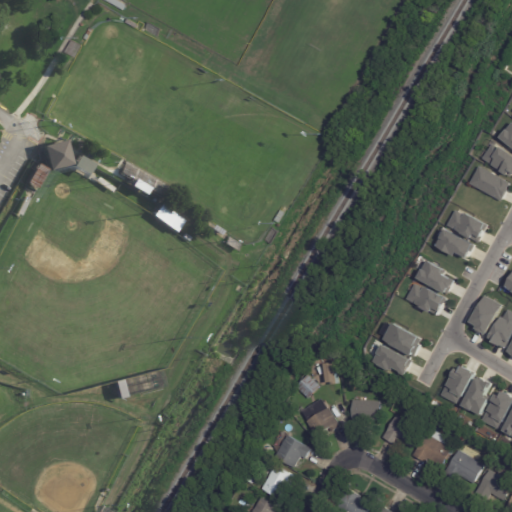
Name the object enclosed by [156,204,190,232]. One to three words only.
building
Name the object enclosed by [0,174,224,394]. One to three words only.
baseball field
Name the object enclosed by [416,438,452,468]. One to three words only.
house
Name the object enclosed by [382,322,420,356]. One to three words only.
house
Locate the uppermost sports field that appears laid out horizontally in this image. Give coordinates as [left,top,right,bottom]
[128,0,273,64]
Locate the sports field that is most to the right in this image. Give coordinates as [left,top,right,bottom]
[236,0,400,130]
